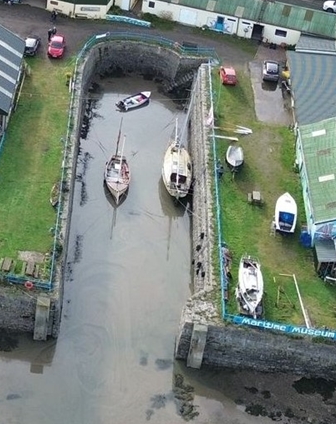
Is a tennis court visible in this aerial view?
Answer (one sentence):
No, no tennis court is visible in the view.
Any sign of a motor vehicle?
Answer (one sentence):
Yes, a motor vehicle appears in the view.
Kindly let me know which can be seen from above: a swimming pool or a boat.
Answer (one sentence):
The one in the frame is a boat.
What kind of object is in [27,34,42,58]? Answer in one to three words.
car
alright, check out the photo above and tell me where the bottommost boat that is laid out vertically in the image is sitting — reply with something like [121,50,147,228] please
[237,256,267,317]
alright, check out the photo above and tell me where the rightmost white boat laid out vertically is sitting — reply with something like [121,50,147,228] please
[272,185,299,241]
